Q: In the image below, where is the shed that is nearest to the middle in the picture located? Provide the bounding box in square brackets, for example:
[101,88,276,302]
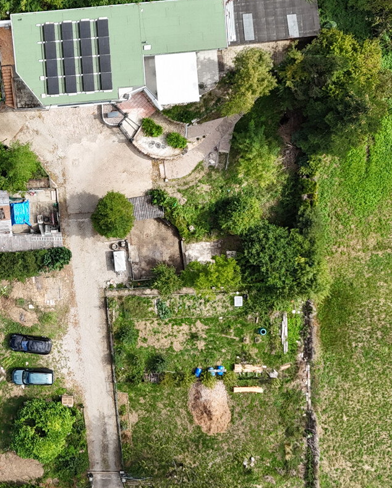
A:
[129,195,164,221]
